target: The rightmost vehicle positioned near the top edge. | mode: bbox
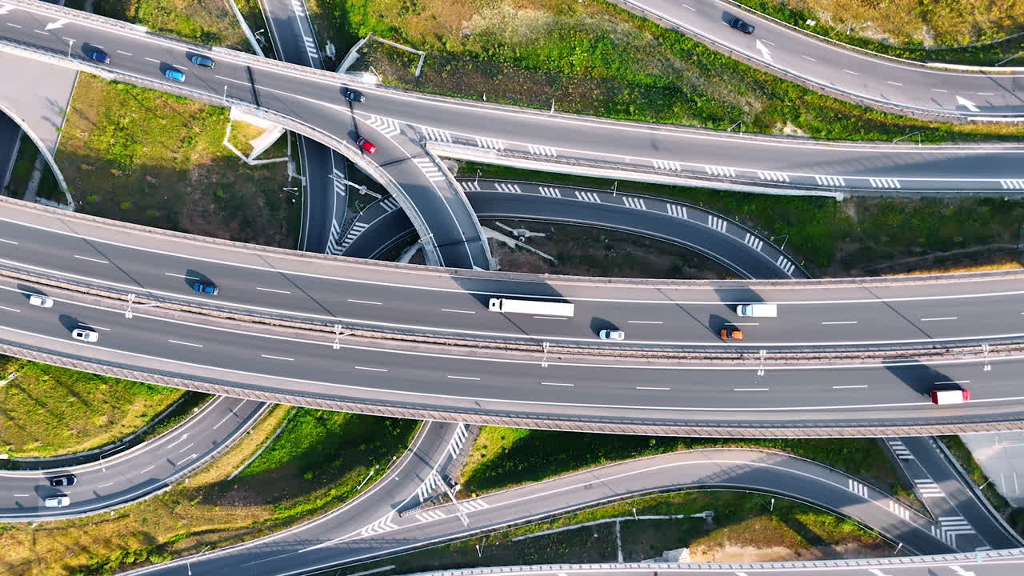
[730,18,754,35]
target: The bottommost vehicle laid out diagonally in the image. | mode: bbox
[357,138,376,154]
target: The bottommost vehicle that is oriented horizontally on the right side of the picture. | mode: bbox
[926,390,971,406]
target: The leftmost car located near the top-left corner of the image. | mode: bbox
[89,50,110,64]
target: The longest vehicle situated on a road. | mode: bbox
[488,298,575,317]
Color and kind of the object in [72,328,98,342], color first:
white car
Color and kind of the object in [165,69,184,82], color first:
blue vehicle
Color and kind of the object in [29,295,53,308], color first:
white vehicle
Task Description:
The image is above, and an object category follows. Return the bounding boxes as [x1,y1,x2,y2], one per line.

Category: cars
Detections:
[193,282,218,294]
[600,329,624,340]
[52,475,75,486]
[730,18,754,35]
[720,328,743,340]
[29,295,53,308]
[357,138,376,154]
[165,69,184,82]
[345,90,365,102]
[72,328,98,342]
[46,496,69,507]
[89,50,110,64]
